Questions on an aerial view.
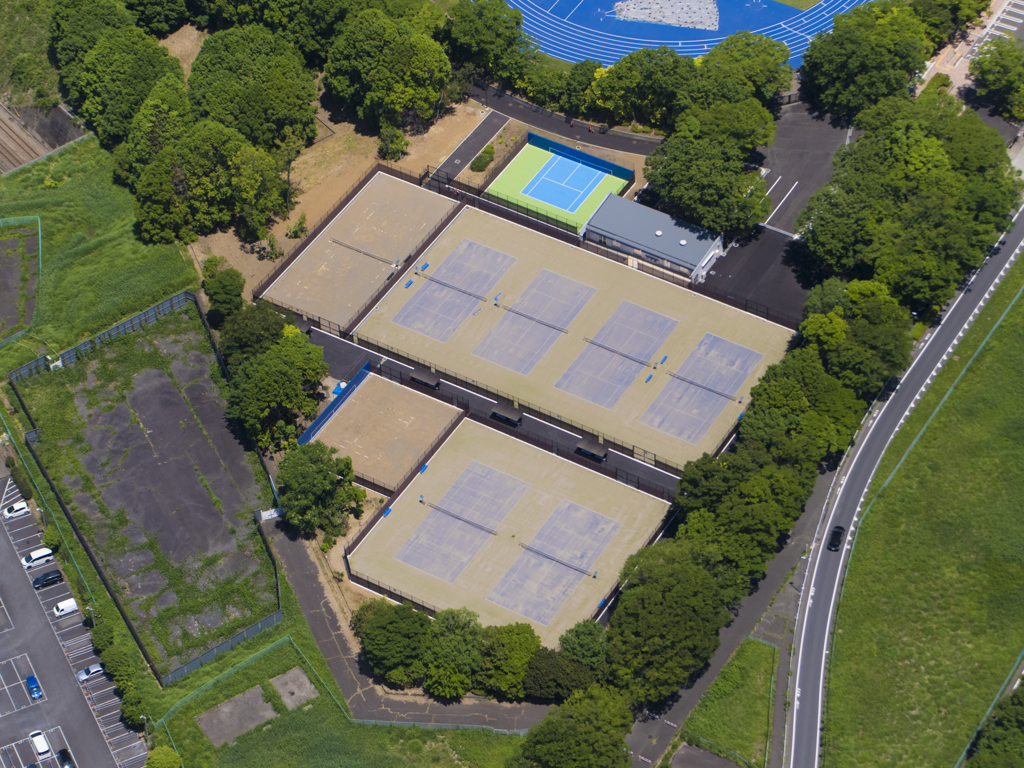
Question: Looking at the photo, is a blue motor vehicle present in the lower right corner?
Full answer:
No, looking in the lower right corner, there is no blue motor vehicle.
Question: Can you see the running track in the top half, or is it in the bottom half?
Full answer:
The running track is in the top half of the image.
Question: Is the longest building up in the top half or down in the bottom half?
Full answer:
The top half of the photo is where the longest building is.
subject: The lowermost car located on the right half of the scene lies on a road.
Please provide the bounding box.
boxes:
[828,525,844,550]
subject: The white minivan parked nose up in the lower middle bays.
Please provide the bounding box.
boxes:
[29,731,50,759]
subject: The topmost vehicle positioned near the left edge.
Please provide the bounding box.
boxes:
[4,502,30,519]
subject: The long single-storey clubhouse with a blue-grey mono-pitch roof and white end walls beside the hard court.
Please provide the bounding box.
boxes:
[579,187,724,283]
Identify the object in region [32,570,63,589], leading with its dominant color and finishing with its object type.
black car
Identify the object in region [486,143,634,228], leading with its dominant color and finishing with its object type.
green tennis court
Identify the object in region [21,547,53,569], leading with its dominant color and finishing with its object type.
white car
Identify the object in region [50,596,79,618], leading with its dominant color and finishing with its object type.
white vehicle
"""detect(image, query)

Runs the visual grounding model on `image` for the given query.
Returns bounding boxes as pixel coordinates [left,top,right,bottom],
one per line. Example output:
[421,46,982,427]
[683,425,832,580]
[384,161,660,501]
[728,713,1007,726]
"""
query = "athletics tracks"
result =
[464,0,869,80]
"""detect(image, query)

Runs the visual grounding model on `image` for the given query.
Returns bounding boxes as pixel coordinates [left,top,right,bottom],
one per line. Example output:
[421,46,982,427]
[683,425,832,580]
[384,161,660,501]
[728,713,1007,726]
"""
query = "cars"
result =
[828,525,844,550]
[25,674,41,698]
[27,762,40,768]
[29,731,50,759]
[4,502,30,519]
[32,570,63,589]
[57,749,76,768]
[21,547,53,569]
[76,663,107,683]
